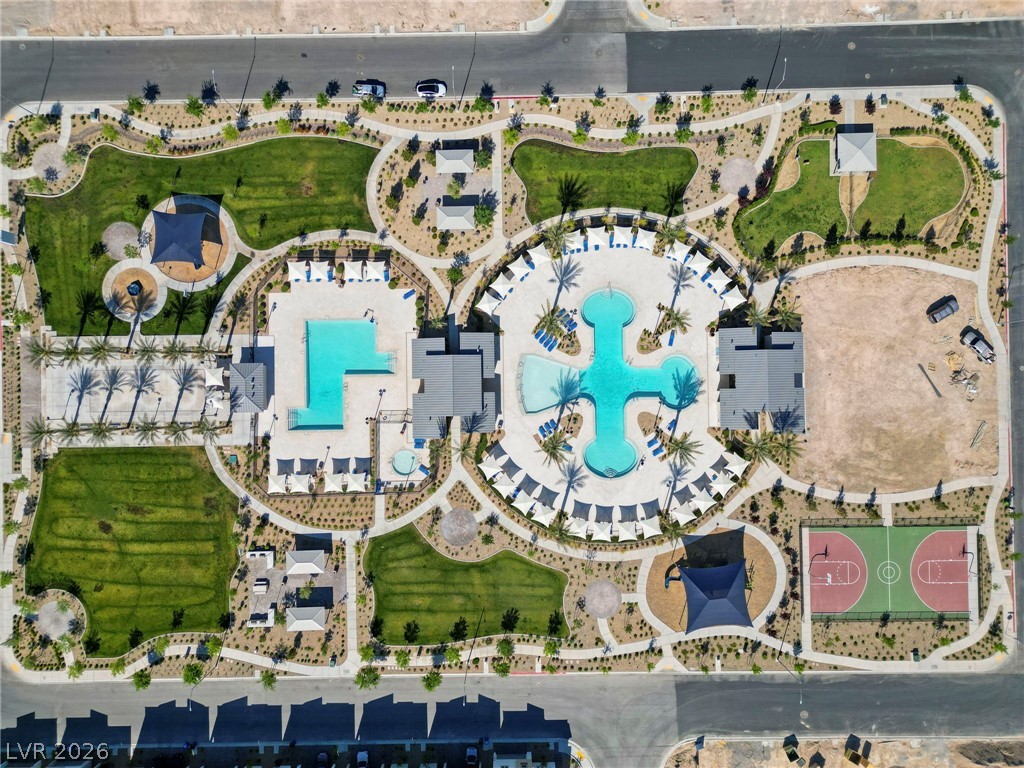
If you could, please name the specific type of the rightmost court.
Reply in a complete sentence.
What you see as the rightmost court is a basketball court.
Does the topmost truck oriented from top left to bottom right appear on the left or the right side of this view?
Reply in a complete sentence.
The topmost truck oriented from top left to bottom right sits on the right side.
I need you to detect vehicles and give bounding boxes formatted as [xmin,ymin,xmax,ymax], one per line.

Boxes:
[350,81,386,98]
[926,298,960,321]
[960,330,998,364]
[354,750,369,768]
[416,81,447,97]
[464,744,478,768]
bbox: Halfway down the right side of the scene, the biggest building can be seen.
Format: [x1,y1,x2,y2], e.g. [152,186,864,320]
[714,328,806,434]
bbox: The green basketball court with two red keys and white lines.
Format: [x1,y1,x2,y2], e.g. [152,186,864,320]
[810,527,968,620]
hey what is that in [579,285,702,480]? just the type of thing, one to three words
swimming pool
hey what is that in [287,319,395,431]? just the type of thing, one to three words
swimming pool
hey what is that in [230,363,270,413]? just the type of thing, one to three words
building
